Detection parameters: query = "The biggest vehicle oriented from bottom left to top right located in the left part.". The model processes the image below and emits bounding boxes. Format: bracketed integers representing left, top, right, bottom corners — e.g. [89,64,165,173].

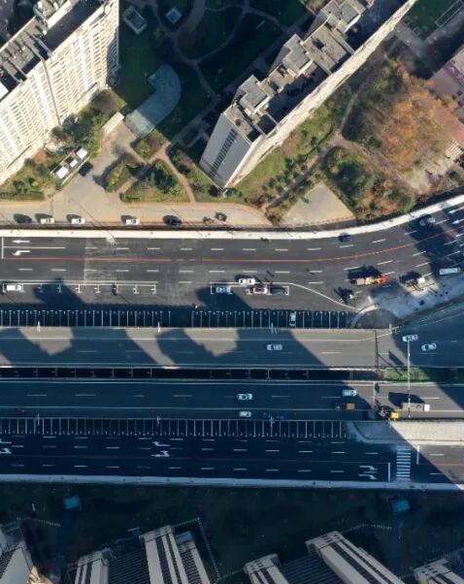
[79,162,92,177]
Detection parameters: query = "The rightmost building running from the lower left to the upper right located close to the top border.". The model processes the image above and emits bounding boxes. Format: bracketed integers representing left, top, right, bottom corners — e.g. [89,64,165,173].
[202,0,428,189]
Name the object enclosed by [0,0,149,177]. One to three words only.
building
